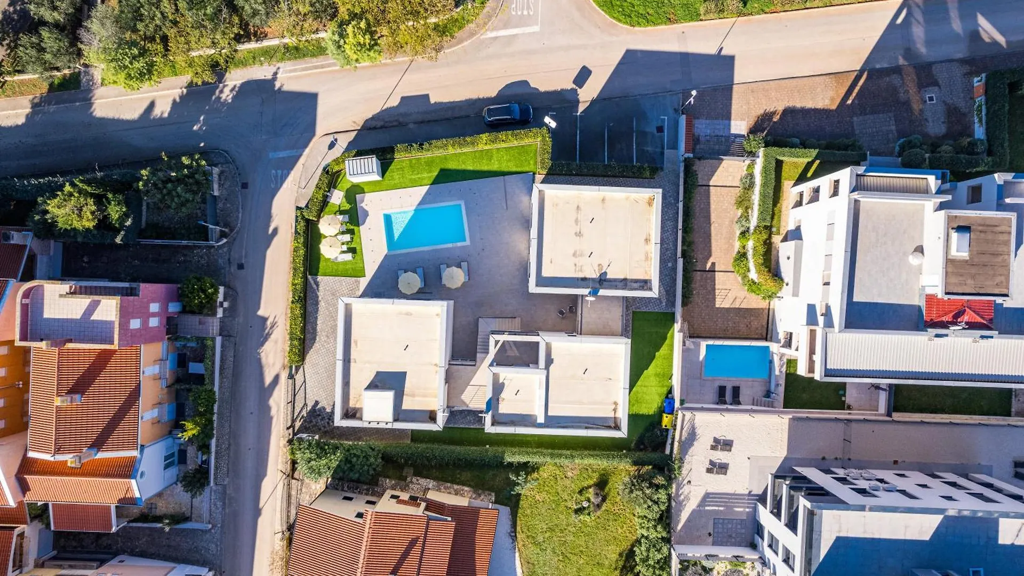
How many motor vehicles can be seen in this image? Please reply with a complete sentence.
I count just 1 motor vehicle.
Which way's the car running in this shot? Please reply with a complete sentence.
The car is oriented horizontally.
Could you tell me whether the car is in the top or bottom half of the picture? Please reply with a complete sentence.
It is in the top half that the car appears.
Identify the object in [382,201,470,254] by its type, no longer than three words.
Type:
swimming pool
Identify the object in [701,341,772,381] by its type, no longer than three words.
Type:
swimming pool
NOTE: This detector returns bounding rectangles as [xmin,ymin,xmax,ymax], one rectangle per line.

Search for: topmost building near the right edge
[777,167,1024,388]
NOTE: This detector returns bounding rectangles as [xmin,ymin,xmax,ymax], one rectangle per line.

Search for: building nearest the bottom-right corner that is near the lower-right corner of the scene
[750,466,1024,576]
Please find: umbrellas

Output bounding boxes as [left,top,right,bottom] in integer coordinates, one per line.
[320,213,343,237]
[321,236,345,259]
[398,271,421,295]
[442,265,465,289]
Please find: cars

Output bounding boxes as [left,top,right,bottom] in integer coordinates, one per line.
[483,101,534,127]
